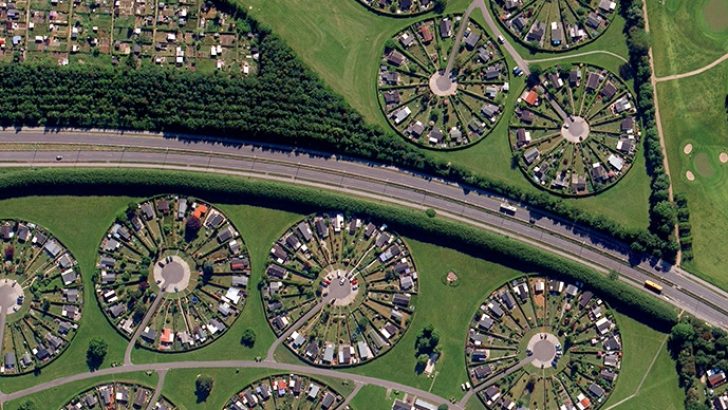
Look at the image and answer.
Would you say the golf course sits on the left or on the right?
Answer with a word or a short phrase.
right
